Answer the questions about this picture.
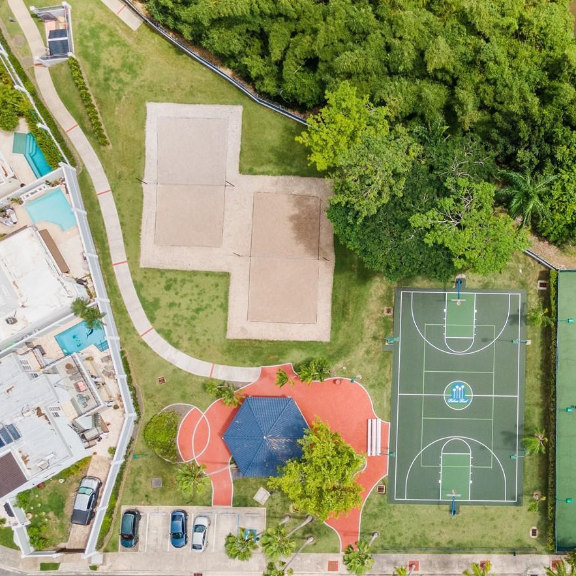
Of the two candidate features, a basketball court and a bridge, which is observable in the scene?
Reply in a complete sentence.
I can see a basketball court in this picture.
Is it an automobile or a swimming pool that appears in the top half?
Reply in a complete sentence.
There is a swimming pool in the top half.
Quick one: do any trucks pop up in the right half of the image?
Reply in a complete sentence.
No, in the right half of the image there is no truck.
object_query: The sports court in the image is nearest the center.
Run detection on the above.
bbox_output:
[227,174,335,342]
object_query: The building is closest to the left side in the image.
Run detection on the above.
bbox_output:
[0,154,40,217]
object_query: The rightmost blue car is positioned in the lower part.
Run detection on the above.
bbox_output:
[169,510,189,547]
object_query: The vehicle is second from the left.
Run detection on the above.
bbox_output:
[120,511,142,546]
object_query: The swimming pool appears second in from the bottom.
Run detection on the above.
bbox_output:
[23,188,75,231]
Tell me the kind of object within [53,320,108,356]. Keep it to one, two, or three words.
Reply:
swimming pool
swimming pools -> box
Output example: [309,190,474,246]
[11,132,52,178]
[23,188,75,231]
[53,320,108,356]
